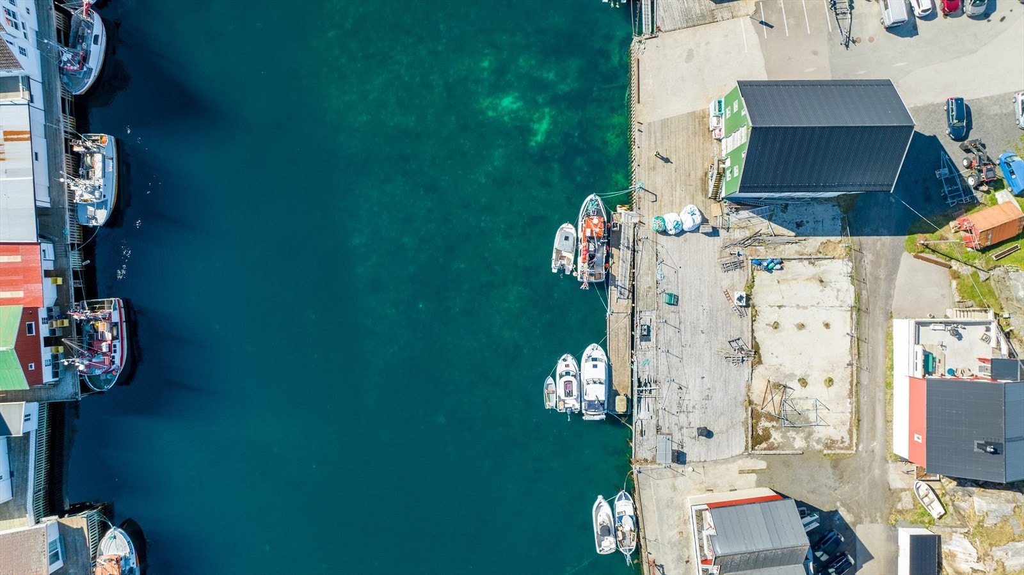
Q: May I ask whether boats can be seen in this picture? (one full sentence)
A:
Yes, the picture does show a boat.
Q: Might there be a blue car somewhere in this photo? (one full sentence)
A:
Yes, the picture does show a blue car.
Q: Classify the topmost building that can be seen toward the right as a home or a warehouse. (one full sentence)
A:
From above, the topmost building that can be seen toward the right can be identified as a warehouse.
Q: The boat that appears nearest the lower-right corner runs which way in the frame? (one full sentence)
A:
In this picture, the boat that appears nearest the lower-right corner lies at an angle.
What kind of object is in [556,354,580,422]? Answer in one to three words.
boat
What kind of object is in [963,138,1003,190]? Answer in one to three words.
work vehicle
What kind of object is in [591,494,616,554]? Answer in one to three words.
boat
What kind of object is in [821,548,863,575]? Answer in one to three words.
car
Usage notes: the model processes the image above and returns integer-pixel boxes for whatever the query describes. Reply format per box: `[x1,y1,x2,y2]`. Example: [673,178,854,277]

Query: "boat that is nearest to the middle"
[552,224,578,276]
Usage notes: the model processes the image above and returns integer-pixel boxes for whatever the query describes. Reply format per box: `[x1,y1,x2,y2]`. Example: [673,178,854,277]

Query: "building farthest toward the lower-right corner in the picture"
[898,528,938,575]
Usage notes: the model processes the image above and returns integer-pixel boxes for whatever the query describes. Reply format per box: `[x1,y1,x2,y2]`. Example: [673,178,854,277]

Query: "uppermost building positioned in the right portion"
[707,78,915,201]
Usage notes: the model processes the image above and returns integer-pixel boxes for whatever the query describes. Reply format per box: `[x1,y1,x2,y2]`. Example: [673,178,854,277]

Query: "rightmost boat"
[915,482,945,519]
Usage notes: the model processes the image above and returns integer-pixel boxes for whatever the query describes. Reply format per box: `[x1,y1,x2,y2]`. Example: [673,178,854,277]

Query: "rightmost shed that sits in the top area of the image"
[959,199,1024,248]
